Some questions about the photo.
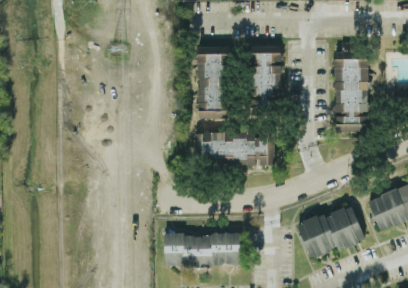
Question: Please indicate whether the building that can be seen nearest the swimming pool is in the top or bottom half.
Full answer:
It is in the top half that the building that can be seen nearest the swimming pool appears.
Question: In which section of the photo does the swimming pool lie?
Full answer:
The swimming pool appears toward the top right of the photo.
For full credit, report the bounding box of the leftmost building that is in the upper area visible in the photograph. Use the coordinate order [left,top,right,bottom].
[196,46,226,121]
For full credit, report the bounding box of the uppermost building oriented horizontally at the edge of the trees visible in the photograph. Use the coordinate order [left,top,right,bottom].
[196,132,276,168]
